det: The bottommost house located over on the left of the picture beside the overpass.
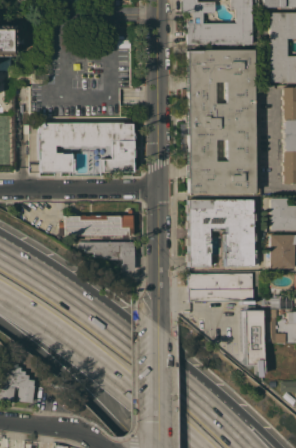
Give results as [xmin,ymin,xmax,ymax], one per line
[76,242,135,270]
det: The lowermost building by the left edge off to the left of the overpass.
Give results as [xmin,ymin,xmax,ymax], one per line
[0,368,35,403]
